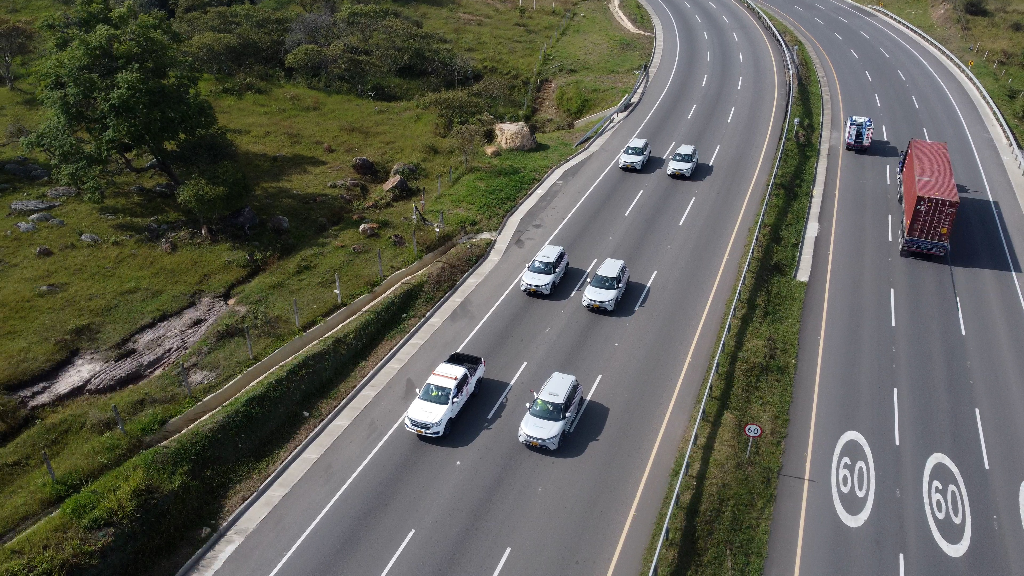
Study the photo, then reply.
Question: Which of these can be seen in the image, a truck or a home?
truck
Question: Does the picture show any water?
No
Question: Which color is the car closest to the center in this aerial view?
white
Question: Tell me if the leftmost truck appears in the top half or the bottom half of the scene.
bottom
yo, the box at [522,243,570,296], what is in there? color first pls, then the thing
white car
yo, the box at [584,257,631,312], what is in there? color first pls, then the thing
white car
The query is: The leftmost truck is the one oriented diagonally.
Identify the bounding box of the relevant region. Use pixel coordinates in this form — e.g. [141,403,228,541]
[405,354,486,440]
